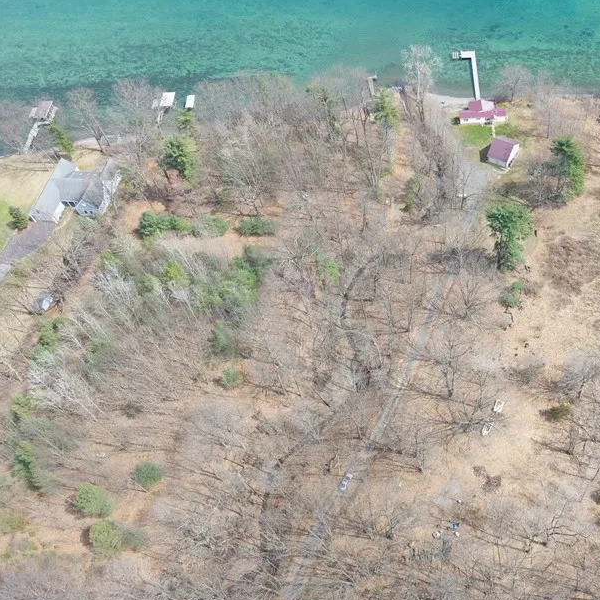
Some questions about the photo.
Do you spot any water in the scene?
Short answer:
Yes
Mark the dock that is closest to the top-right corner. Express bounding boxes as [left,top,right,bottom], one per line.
[461,53,480,96]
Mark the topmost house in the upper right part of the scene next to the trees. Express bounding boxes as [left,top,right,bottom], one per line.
[459,94,507,128]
